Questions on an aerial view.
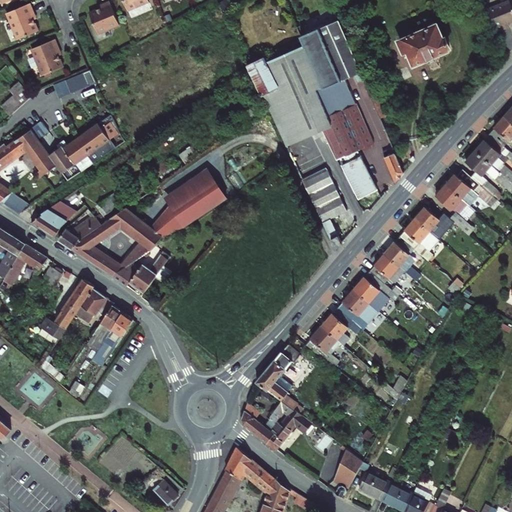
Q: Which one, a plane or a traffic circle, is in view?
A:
traffic circle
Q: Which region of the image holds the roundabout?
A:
bottom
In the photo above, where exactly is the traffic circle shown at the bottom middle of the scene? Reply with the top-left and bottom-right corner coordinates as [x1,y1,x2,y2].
[174,376,240,442]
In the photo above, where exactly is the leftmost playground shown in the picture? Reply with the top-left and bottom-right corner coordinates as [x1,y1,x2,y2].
[12,364,62,415]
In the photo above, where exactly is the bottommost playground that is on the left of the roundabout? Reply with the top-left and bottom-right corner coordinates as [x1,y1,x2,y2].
[70,426,106,460]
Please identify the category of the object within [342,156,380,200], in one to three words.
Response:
building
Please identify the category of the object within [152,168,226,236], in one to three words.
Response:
hangar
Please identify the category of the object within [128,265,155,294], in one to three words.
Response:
house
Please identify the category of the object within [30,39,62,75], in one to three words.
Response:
house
